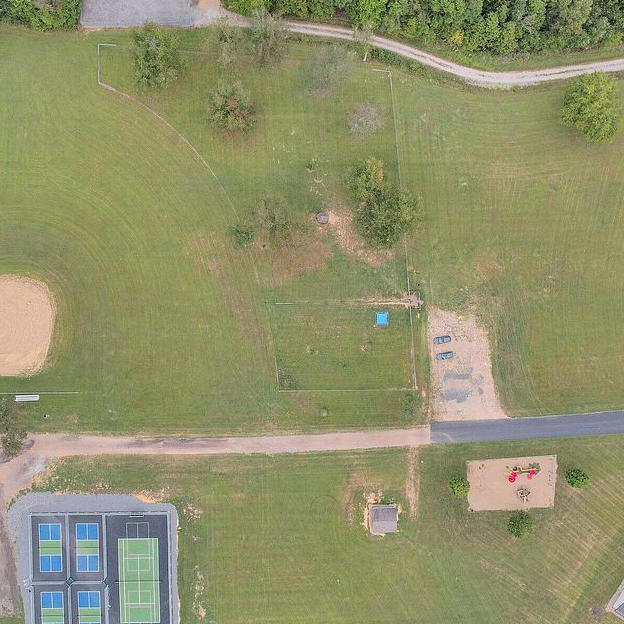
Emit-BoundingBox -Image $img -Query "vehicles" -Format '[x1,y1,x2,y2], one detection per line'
[435,335,451,344]
[437,351,453,360]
